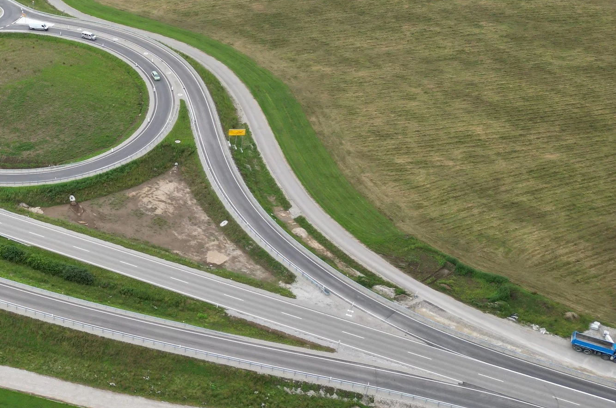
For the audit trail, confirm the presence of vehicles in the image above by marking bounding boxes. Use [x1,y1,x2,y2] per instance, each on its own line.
[576,332,616,362]
[28,19,49,29]
[151,69,162,78]
[81,29,96,40]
